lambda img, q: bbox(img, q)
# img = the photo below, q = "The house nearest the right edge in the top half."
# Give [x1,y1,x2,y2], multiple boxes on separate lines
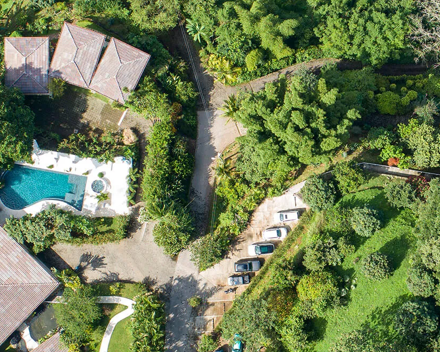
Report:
[90,38,149,104]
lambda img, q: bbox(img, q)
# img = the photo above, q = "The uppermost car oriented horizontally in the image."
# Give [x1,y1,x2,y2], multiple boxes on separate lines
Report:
[273,210,299,222]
